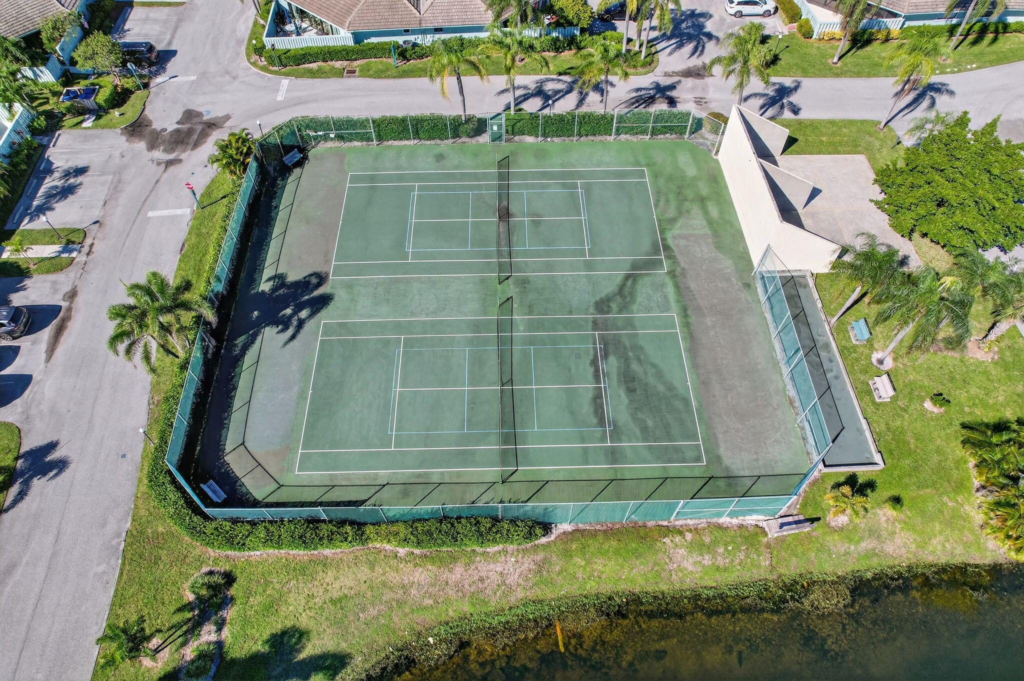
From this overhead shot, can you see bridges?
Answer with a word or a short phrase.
No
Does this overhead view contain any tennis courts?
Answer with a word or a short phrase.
Yes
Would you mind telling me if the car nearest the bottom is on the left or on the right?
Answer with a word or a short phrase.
left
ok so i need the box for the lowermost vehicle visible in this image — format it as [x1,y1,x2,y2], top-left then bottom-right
[0,303,37,339]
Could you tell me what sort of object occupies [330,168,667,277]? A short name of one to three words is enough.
tennis court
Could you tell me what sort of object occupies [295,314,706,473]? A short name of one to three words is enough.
tennis court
